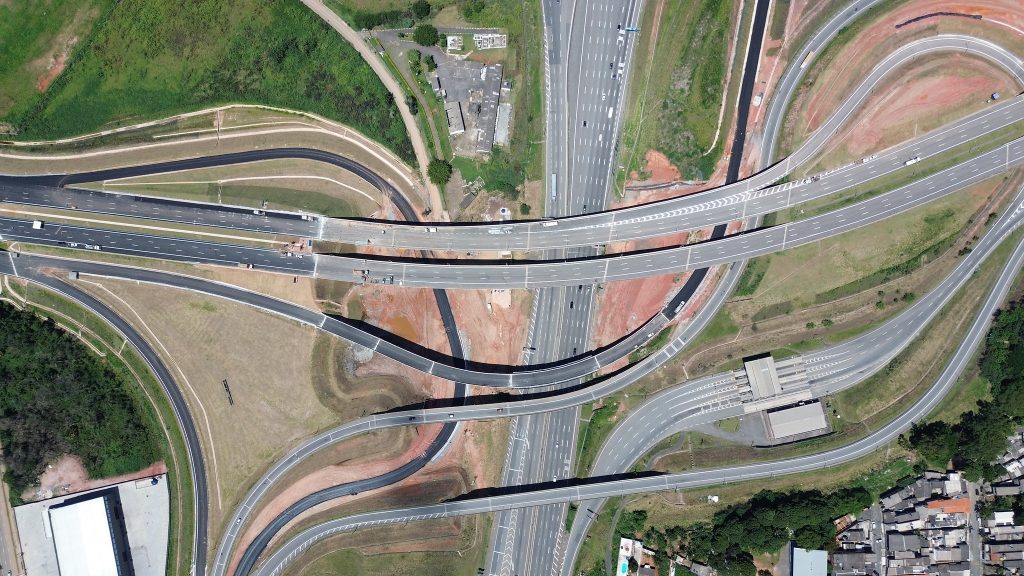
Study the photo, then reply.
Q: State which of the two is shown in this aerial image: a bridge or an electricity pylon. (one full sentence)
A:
Of the two, only a bridge appears.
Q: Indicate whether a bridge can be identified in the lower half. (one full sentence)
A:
Yes, in the lower half there is a bridge.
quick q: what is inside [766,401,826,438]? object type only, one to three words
building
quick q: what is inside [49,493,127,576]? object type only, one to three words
building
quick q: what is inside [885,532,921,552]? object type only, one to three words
house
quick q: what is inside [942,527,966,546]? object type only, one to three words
house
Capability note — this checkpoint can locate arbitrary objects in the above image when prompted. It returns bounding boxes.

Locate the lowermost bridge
[443,475,669,516]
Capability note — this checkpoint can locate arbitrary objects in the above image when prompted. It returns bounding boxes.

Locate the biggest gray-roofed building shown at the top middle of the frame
[476,64,502,153]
